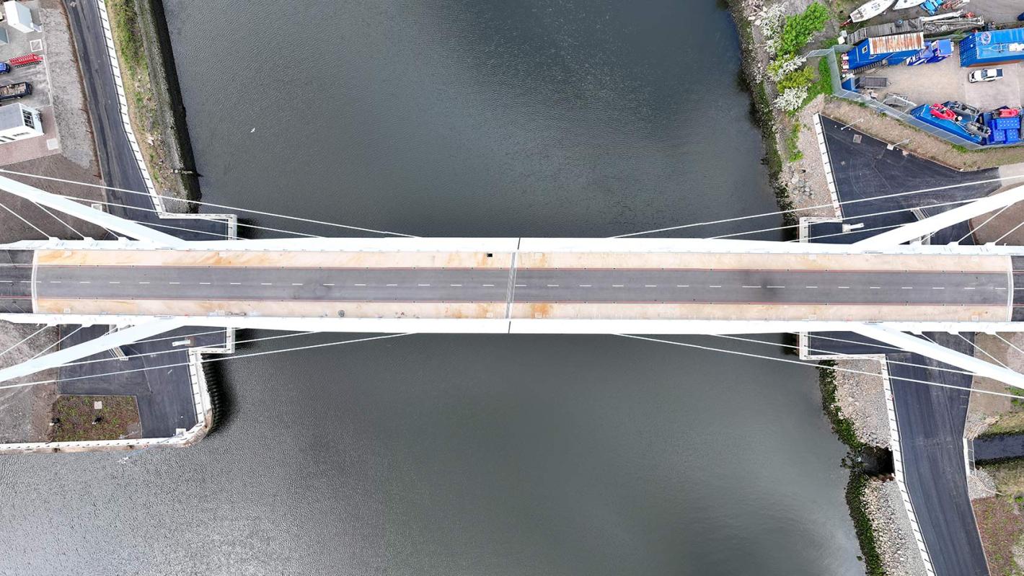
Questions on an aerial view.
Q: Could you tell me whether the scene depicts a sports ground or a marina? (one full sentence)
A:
This image shows a marina.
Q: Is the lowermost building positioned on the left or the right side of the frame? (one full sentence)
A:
The lowermost building sits on the left side.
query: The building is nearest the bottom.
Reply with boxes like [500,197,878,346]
[0,104,43,143]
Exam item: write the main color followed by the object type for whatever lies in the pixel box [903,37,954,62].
blue truck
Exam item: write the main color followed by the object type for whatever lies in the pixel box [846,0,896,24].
white boat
